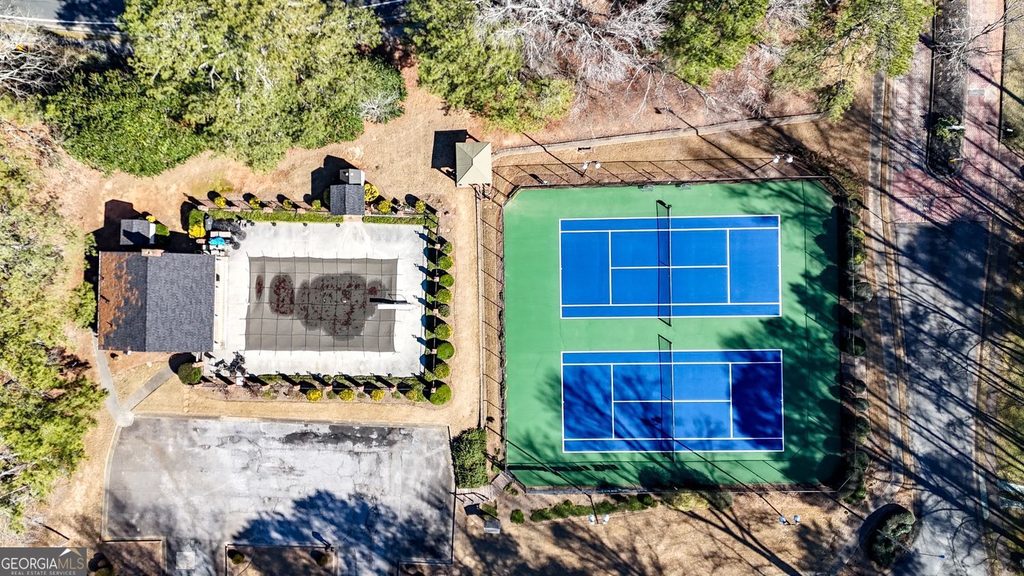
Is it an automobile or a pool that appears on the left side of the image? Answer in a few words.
pool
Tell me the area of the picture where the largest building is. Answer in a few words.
left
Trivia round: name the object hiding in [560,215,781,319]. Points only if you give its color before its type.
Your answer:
blue tennis court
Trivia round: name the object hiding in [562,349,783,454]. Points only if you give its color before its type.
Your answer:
blue tennis court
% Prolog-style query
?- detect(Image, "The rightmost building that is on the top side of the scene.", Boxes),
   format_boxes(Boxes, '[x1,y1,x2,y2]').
[456,142,492,188]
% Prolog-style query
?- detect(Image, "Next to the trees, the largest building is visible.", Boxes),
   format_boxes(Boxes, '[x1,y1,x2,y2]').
[99,246,235,358]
